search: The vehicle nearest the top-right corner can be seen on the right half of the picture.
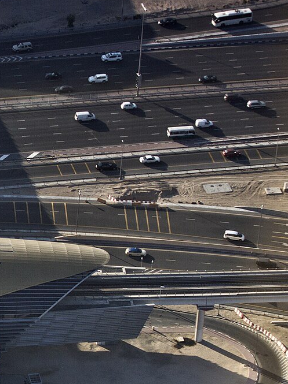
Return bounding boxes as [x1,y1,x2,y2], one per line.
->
[208,4,256,25]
